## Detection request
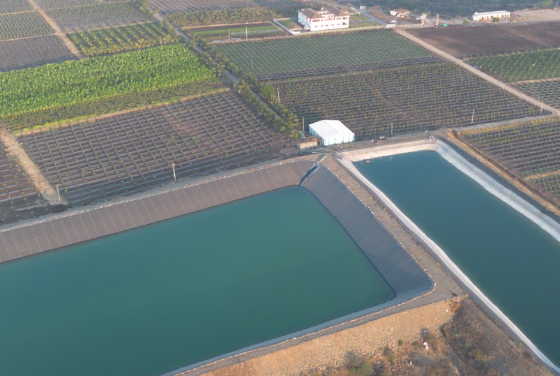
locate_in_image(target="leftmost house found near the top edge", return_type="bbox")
[299,2,351,31]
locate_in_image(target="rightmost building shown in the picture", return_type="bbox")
[467,9,512,22]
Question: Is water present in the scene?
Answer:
Yes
